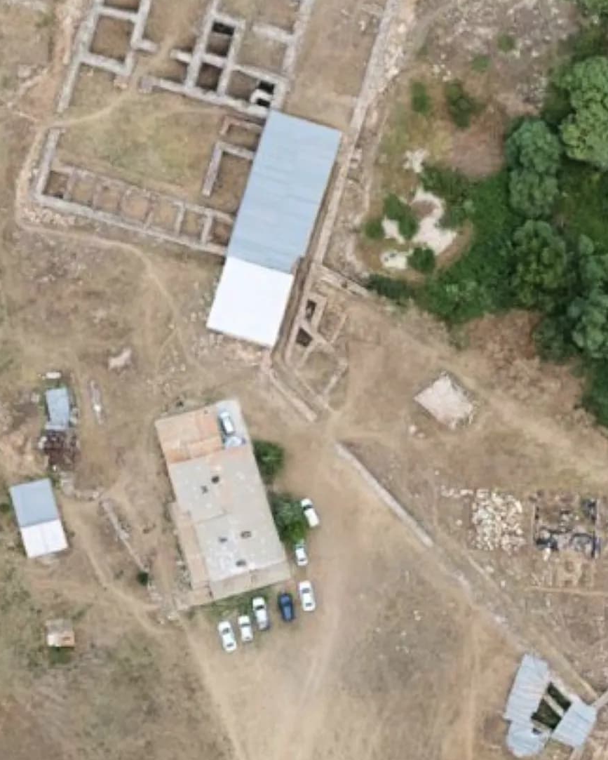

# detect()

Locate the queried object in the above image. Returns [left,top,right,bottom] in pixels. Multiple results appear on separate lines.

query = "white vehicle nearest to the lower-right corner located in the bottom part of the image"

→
[299,580,316,611]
